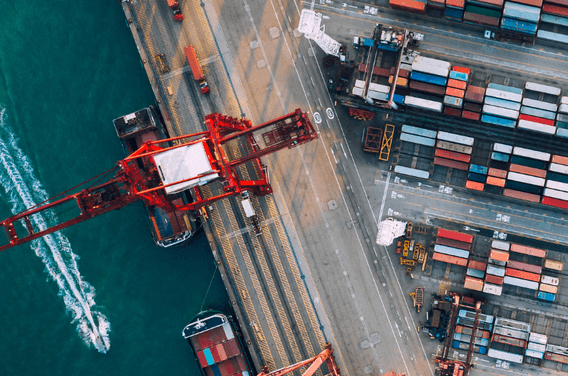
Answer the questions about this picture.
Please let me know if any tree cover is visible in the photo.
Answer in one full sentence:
No, the picture contains no tree cover.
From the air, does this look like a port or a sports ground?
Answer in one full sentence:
What you see here is a port.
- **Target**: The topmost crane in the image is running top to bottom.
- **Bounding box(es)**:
[355,22,411,122]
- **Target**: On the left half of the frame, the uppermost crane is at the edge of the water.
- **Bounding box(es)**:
[0,108,317,259]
